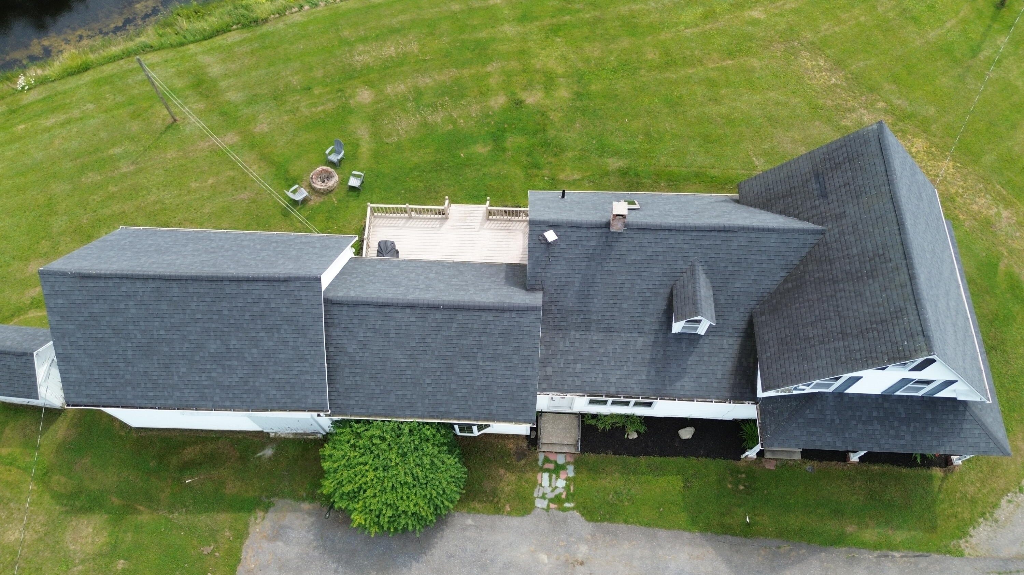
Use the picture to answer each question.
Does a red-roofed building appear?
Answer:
No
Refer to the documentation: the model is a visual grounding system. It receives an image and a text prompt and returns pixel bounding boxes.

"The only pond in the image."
[0,0,209,77]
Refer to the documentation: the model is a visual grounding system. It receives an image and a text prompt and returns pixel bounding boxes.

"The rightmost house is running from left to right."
[38,119,1014,465]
